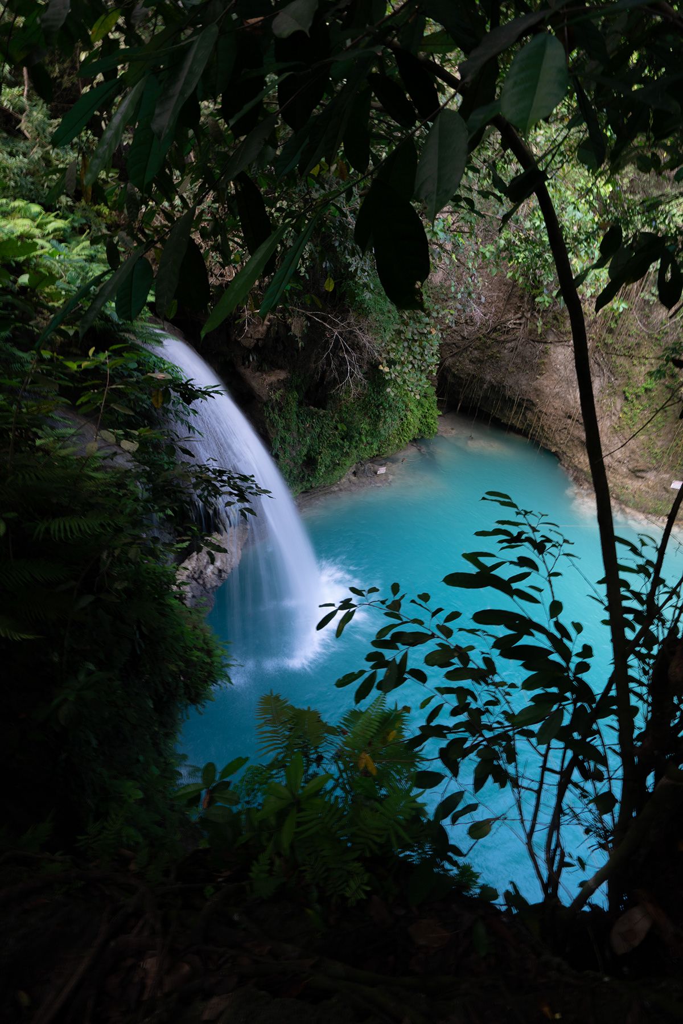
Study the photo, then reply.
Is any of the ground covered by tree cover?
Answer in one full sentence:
Yes, tree cover shows up in the scene.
